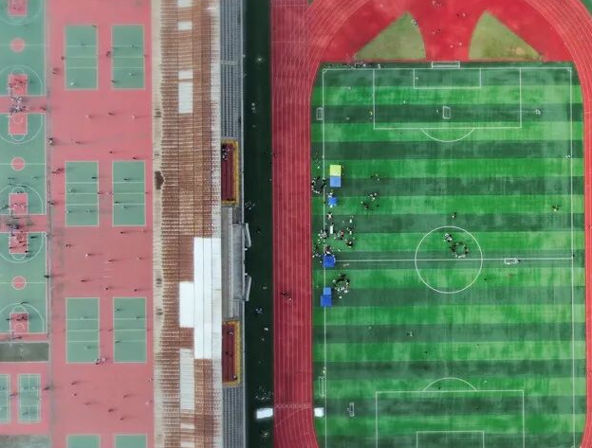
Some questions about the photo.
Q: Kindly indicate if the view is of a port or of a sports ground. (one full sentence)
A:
What you see here is a sports ground.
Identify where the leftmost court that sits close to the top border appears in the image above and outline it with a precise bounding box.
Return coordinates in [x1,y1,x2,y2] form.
[0,0,46,96]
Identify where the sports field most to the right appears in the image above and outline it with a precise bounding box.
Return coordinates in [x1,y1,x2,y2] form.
[310,62,587,448]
